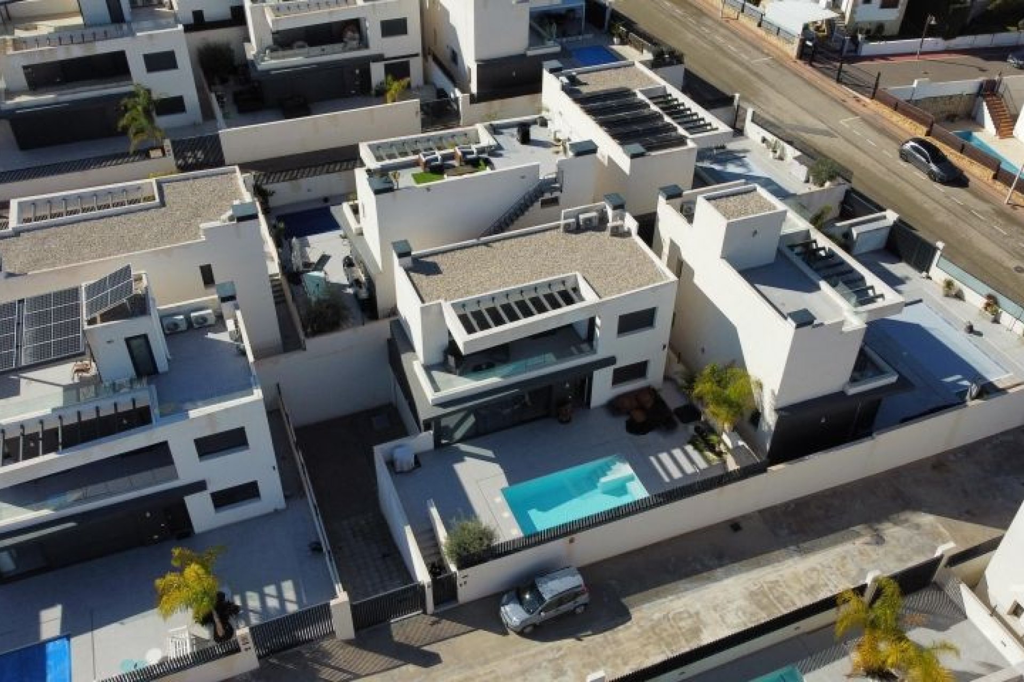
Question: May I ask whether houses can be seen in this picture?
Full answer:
Yes, the photo shows a house.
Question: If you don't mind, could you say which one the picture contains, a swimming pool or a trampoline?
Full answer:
It is a swimming pool that can be seen here.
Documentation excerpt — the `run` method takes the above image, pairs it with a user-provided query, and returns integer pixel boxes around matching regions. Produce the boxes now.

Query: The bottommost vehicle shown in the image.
[498,563,593,635]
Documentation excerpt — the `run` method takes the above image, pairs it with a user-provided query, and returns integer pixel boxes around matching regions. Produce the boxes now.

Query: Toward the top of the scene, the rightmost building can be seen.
[992,72,1024,120]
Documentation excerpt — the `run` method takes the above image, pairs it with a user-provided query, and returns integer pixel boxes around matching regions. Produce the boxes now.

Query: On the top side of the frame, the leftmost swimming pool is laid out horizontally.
[271,202,341,240]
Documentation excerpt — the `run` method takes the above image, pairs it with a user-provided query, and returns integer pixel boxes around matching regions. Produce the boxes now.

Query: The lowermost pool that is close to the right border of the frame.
[856,294,1023,410]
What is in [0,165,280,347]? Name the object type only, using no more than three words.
house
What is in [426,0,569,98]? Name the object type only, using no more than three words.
house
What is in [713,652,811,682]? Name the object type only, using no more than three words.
swimming pool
